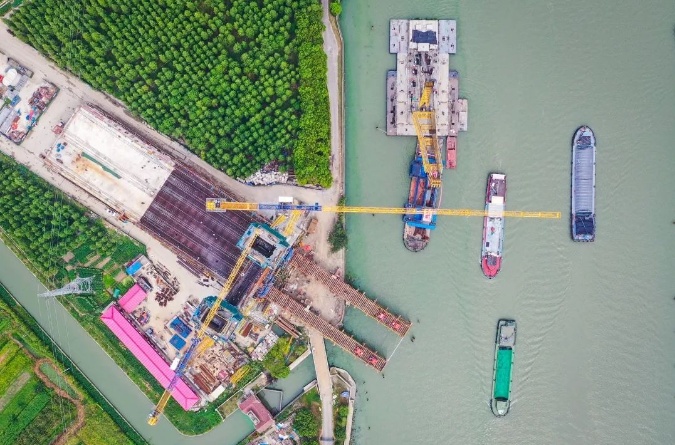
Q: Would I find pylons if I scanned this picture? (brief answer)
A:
Yes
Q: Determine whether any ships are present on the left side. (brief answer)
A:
No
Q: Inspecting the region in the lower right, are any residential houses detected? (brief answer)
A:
No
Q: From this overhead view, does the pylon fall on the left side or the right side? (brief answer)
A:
left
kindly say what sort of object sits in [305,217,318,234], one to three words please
vehicle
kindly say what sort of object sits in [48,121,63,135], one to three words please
vehicle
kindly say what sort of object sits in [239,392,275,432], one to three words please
house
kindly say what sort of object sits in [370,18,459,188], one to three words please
crane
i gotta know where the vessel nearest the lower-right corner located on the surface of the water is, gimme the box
[490,318,517,419]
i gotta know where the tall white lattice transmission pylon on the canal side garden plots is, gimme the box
[36,275,96,303]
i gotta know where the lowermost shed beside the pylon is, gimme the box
[101,307,200,411]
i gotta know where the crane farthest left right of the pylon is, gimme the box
[144,227,262,424]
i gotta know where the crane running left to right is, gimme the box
[204,194,564,218]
